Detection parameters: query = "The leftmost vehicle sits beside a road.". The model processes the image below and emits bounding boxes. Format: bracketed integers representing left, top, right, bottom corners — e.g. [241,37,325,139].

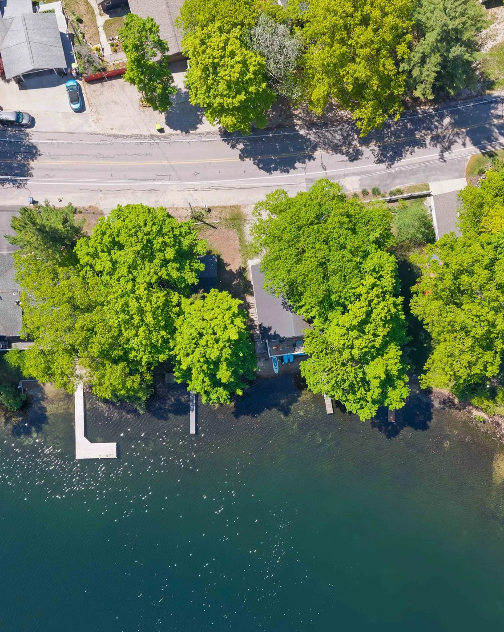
[0,110,30,128]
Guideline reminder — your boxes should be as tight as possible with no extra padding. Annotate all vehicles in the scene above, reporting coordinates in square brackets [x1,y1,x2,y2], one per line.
[65,80,84,112]
[0,110,30,128]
